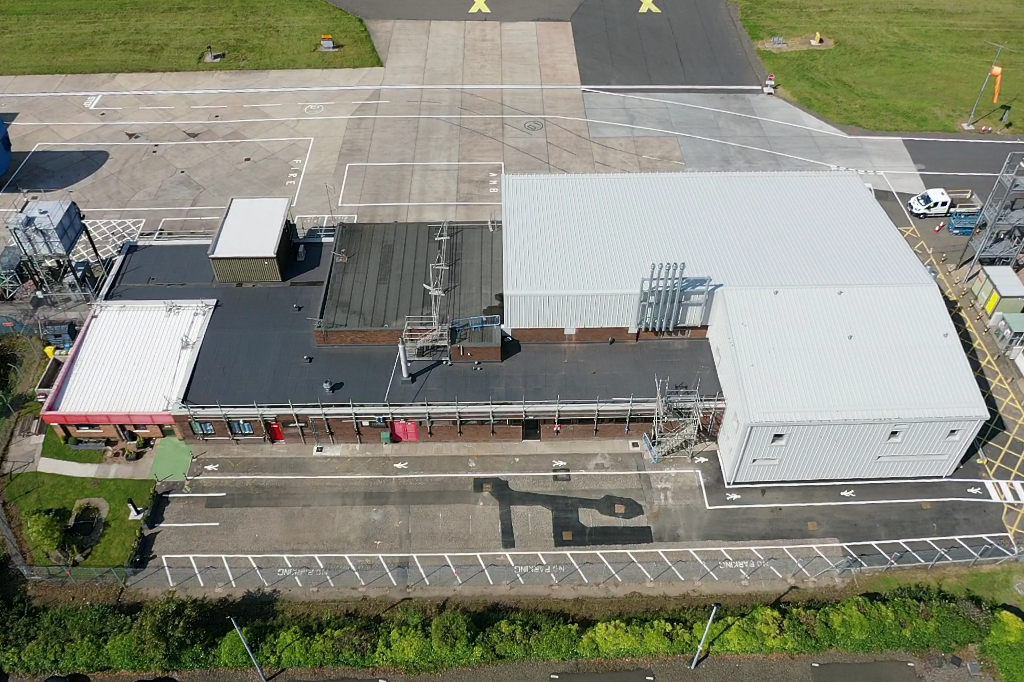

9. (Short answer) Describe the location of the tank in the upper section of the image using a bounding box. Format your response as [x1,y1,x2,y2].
[0,189,109,302]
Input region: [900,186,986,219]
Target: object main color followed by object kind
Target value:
white van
